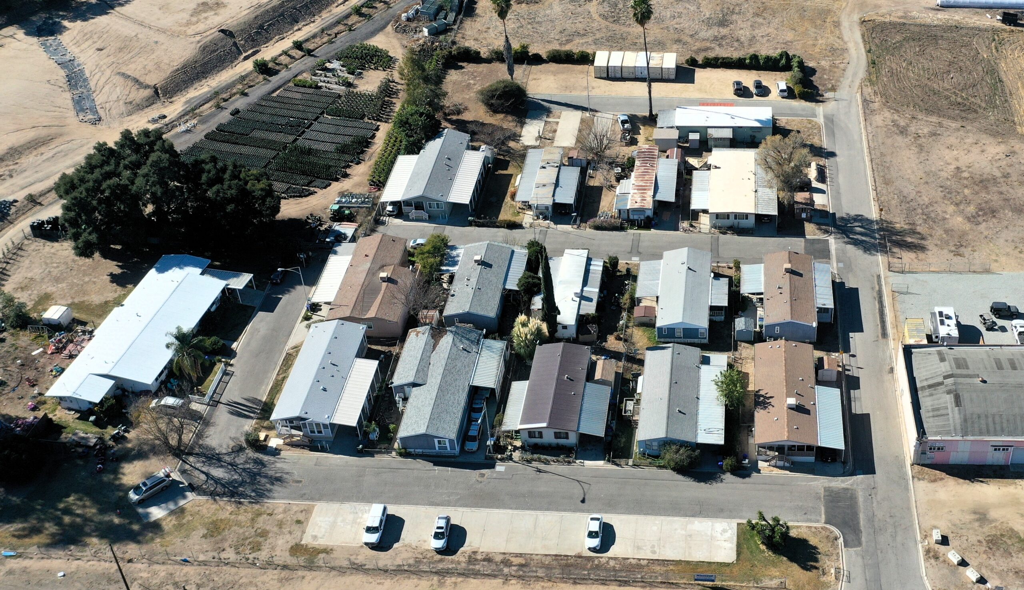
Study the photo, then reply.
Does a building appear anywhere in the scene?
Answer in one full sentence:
Yes, the image includes a building.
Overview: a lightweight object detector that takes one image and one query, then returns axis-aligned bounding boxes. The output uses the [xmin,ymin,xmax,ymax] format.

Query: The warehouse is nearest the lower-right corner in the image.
[899,344,1024,469]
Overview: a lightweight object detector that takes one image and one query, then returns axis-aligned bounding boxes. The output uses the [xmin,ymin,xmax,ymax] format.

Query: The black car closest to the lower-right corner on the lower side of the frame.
[820,447,838,469]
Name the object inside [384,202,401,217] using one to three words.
car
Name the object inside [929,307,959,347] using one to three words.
vehicle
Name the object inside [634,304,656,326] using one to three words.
shed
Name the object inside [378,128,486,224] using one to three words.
house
